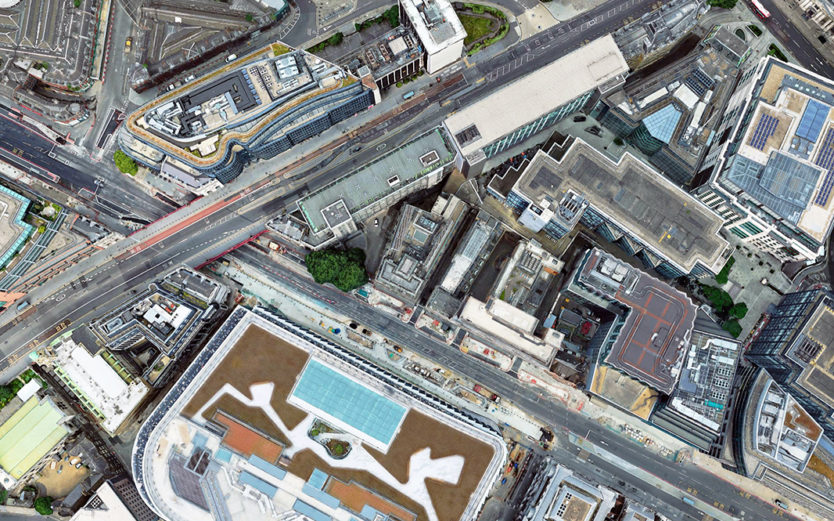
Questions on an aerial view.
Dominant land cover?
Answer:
buildings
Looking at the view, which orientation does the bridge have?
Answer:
horizontally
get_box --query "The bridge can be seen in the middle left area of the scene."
[118,194,271,270]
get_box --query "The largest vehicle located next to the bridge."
[264,240,284,253]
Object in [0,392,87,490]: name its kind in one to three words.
building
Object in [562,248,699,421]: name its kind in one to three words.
building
